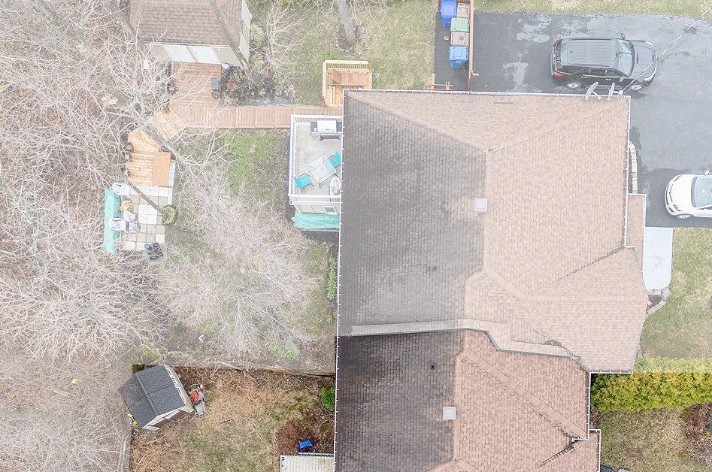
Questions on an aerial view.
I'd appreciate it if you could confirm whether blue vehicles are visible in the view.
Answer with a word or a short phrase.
No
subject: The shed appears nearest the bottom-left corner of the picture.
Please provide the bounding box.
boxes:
[119,366,195,427]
